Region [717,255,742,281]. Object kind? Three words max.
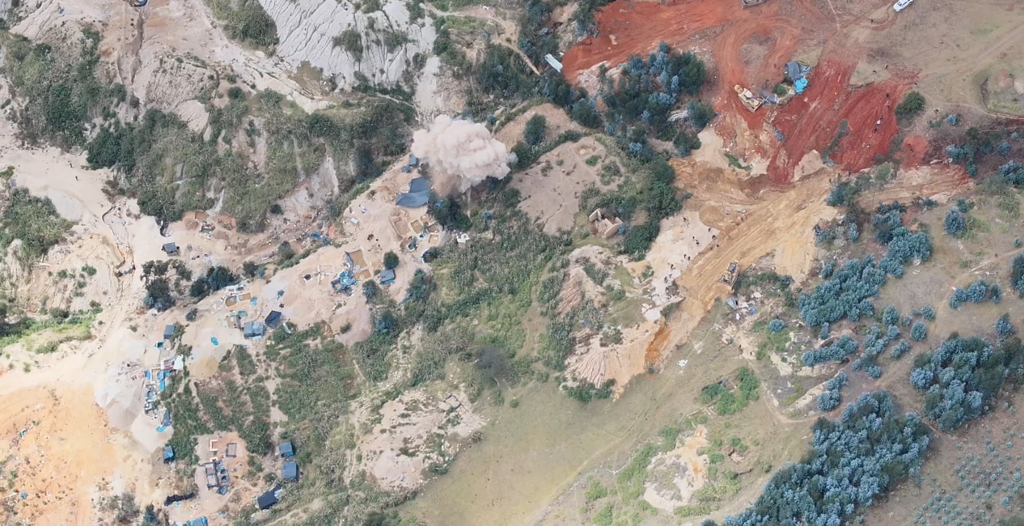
work vehicle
